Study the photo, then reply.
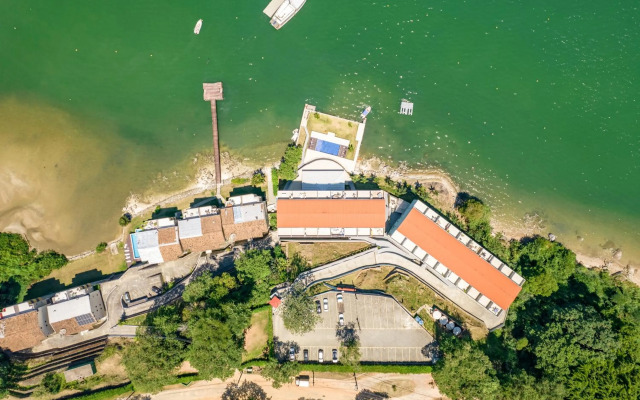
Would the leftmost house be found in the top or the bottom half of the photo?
bottom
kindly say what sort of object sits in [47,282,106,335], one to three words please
house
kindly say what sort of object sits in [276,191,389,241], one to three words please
building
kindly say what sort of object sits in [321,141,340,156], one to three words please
swimming pool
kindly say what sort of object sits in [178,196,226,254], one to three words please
house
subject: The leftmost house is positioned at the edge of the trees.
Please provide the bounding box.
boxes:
[0,292,64,350]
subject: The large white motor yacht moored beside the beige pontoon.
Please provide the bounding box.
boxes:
[268,0,301,31]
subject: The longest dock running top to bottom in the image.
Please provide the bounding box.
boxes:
[203,82,223,171]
